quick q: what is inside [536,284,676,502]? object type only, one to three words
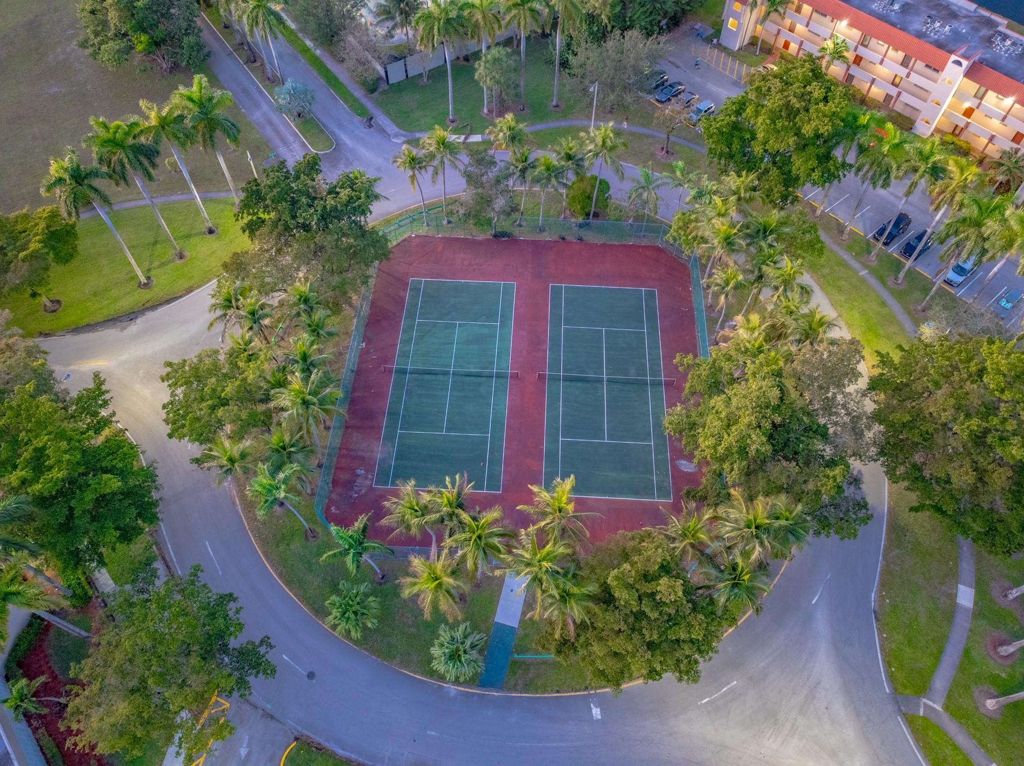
tennis court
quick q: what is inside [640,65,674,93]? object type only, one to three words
car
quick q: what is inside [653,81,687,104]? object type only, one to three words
car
